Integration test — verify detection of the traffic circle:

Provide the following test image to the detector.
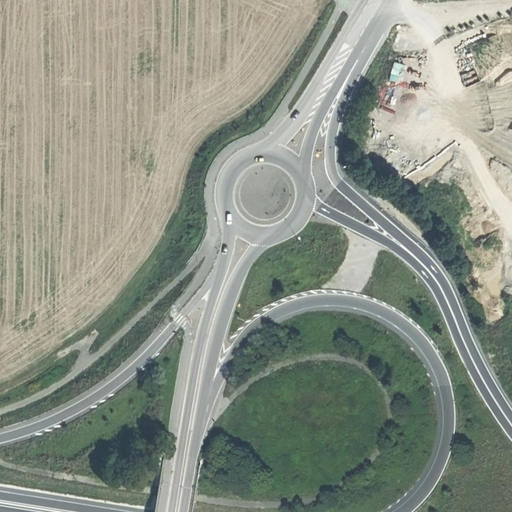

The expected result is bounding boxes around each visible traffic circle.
[214,136,316,262]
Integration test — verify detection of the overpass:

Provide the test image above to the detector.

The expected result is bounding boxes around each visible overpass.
[154,452,203,512]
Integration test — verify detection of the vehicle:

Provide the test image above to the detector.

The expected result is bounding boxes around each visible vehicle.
[226,213,232,225]
[255,158,265,163]
[222,245,228,256]
[290,109,300,120]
